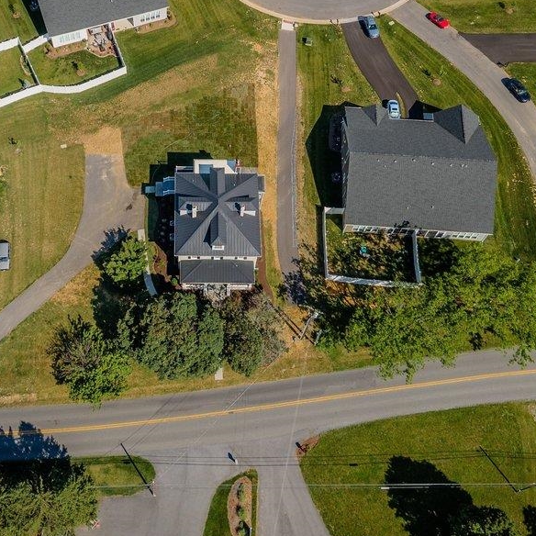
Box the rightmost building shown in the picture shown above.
[334,102,498,242]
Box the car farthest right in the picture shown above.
[505,77,527,103]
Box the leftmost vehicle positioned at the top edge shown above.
[360,11,379,42]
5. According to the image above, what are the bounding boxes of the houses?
[132,158,263,303]
[34,0,168,48]
[334,102,498,242]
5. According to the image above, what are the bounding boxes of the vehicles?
[360,11,379,42]
[505,77,527,103]
[387,95,401,117]
[0,241,9,269]
[424,9,450,32]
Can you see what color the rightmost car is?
black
